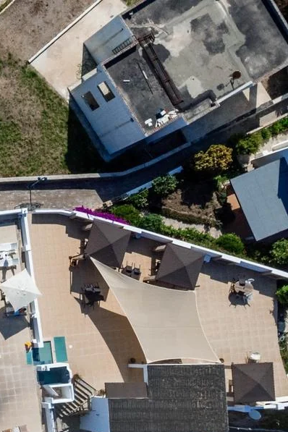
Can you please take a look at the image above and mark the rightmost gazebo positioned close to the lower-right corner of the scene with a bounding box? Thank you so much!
[224,362,276,404]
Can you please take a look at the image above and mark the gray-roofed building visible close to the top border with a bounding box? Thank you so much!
[63,0,288,164]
